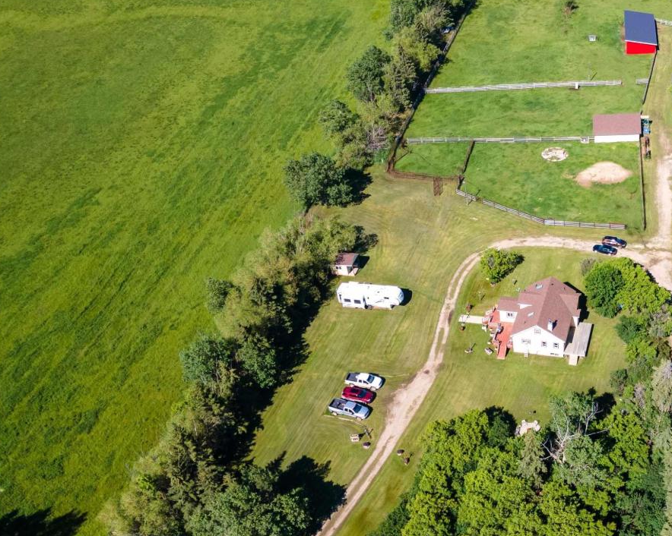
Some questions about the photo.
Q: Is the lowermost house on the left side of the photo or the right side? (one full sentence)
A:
It is on the right.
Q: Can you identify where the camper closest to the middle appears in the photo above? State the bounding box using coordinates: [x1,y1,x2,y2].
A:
[330,283,398,308]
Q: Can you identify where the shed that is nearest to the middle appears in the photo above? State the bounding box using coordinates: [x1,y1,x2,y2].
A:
[331,256,363,276]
